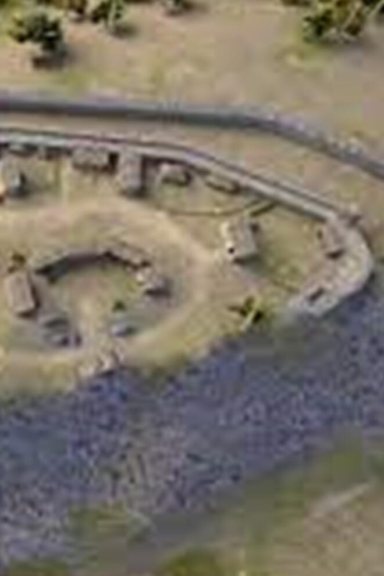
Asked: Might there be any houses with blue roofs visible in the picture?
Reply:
No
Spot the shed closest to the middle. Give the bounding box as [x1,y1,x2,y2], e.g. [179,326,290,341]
[138,272,172,302]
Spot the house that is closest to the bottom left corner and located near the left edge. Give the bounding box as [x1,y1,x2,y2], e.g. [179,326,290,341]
[0,273,44,326]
